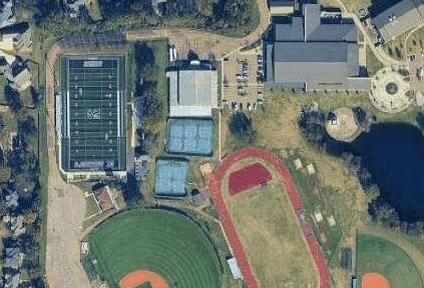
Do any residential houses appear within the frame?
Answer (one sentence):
Yes, the photo shows a residential house.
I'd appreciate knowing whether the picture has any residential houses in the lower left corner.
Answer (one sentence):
Yes, you'll find a residential house in the lower left corner.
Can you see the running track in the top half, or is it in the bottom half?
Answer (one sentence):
The running track is in the bottom half of the image.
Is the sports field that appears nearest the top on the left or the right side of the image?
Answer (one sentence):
The sports field that appears nearest the top appears in the left half of the scene.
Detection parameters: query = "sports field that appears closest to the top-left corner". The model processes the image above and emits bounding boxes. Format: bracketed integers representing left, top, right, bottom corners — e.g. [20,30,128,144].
[62,55,127,171]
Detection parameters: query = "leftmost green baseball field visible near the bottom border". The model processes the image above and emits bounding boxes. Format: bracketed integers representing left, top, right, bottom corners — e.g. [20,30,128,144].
[83,204,223,288]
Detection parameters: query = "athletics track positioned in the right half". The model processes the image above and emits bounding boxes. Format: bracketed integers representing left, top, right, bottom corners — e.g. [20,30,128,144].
[208,147,328,288]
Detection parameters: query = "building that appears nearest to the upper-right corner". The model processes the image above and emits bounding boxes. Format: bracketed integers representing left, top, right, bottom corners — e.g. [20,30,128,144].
[373,0,424,41]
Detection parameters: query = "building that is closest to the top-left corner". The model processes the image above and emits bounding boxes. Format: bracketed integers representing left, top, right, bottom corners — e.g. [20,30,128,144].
[0,0,21,25]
